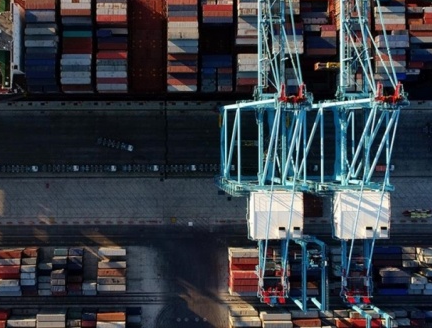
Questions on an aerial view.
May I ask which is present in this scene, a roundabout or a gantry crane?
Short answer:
gantry crane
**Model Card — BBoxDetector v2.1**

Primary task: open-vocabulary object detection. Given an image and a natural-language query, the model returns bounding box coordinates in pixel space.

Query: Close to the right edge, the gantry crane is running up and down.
[285,0,414,303]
